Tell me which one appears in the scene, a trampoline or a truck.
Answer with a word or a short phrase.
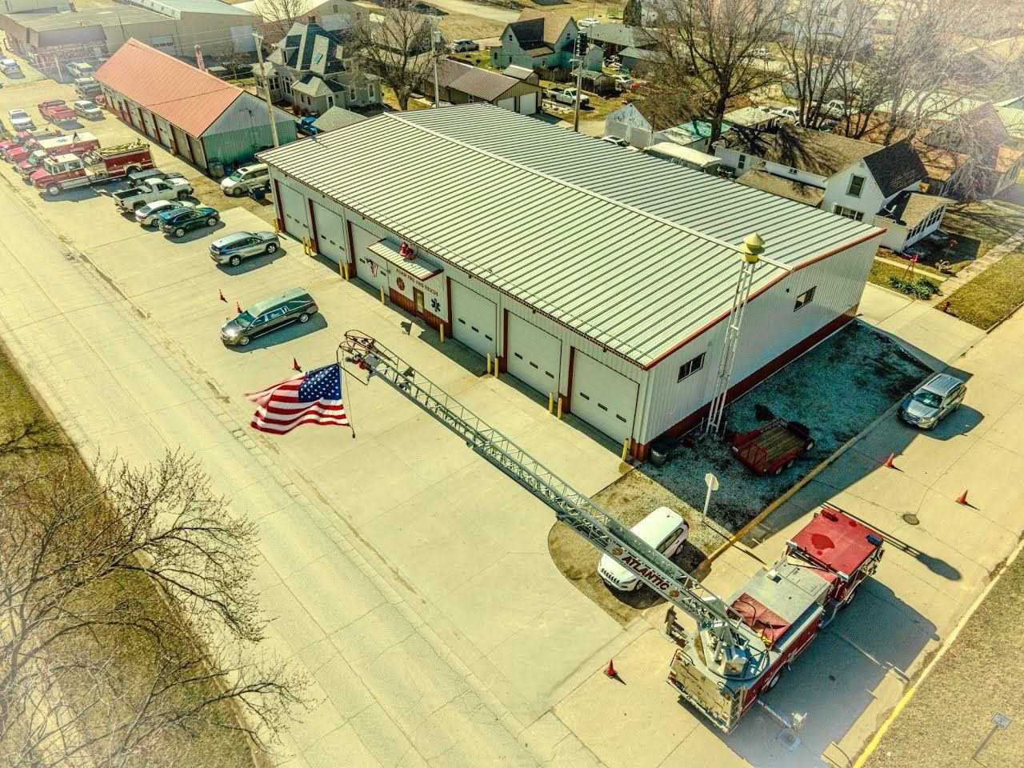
truck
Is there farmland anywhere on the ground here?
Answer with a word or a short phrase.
No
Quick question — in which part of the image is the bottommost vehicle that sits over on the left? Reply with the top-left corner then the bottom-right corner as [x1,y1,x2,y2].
[216,281,327,346]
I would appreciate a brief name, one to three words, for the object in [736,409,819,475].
trailer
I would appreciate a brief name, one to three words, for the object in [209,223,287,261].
car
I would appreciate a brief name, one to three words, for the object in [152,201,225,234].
car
